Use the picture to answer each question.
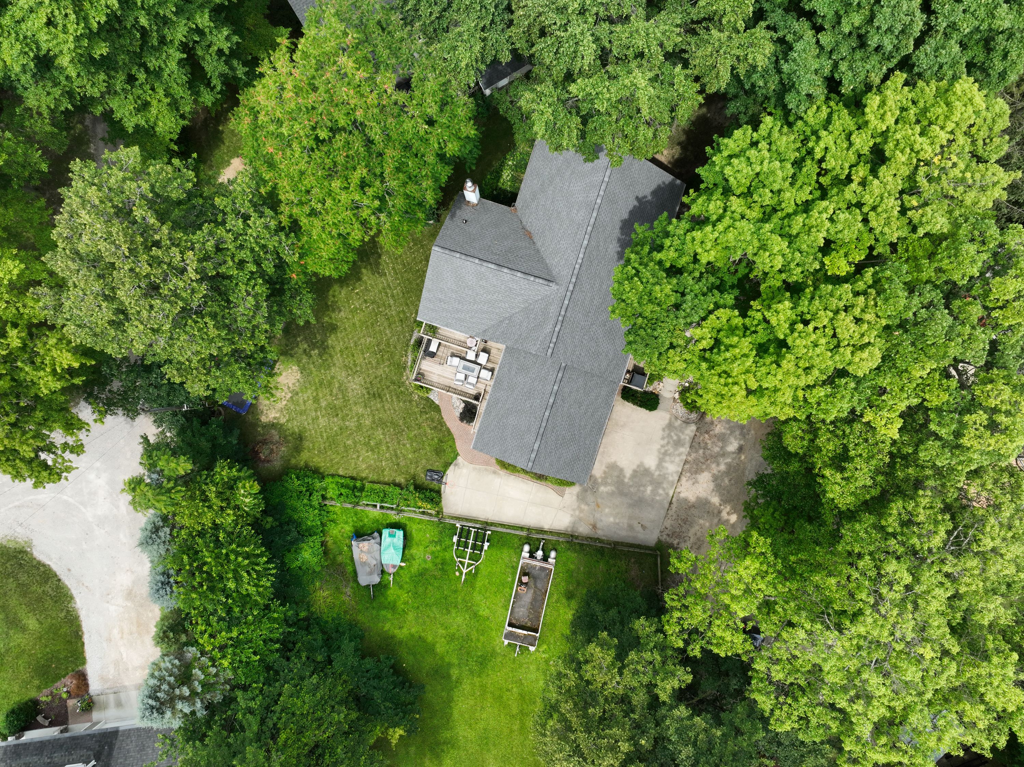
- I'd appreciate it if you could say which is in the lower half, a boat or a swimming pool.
boat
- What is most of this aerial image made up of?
trees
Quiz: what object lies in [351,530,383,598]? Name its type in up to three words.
boat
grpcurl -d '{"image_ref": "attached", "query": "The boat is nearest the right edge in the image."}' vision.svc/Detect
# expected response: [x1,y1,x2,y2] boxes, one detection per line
[502,542,556,656]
